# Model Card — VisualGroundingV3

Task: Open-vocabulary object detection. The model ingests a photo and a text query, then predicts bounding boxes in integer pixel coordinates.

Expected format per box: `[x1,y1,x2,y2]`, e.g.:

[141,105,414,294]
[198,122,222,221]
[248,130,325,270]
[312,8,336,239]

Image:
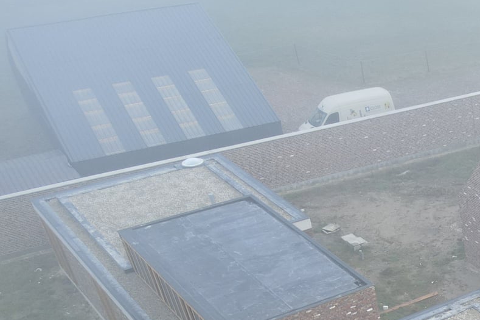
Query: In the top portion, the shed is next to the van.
[0,4,288,182]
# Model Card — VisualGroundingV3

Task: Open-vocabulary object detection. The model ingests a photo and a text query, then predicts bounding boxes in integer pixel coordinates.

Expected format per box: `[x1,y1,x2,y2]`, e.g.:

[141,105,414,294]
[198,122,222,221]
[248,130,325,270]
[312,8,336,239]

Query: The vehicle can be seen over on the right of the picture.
[297,89,394,132]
